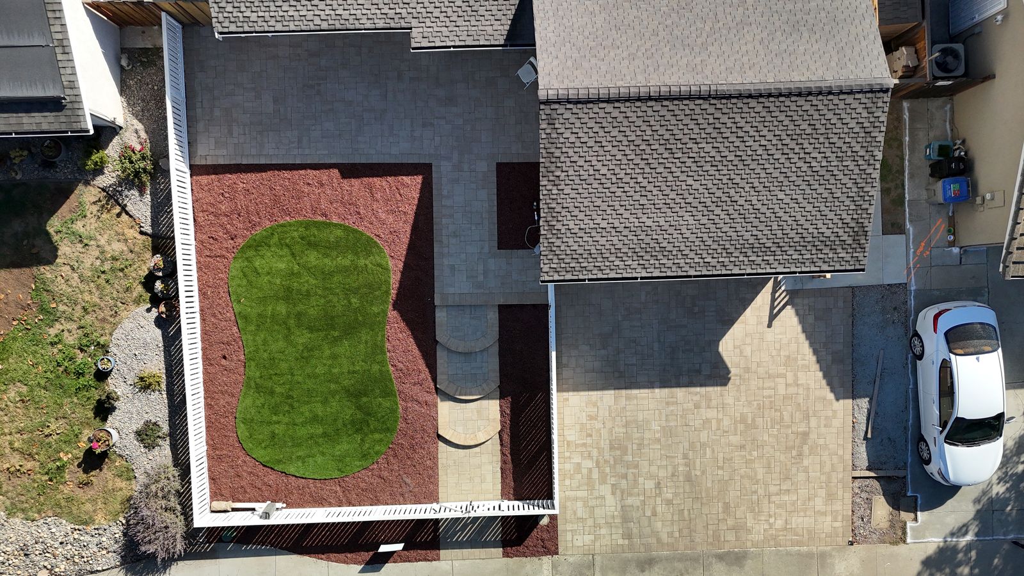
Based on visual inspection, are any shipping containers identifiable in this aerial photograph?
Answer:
No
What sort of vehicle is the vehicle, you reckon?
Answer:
car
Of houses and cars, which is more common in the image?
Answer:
houses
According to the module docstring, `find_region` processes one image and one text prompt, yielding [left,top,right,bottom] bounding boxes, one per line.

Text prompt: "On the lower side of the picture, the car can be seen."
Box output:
[911,300,1019,485]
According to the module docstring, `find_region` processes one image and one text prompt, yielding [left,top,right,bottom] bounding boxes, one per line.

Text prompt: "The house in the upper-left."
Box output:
[0,0,125,140]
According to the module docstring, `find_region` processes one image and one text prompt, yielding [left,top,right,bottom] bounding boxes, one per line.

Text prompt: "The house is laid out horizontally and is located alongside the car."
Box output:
[210,0,893,284]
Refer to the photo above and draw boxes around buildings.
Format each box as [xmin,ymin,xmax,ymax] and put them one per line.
[210,0,893,284]
[951,0,1024,283]
[0,0,125,140]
